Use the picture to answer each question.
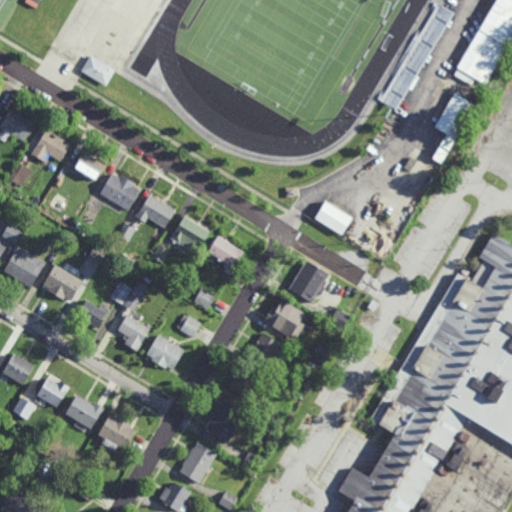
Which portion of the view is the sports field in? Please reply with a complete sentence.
Look in the top portion of the view to spot the sports field.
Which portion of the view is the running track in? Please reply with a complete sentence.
You can find the running track in the top area of the picture.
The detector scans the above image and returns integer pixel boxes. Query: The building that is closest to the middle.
[208,237,244,270]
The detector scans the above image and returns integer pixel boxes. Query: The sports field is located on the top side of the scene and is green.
[175,0,407,132]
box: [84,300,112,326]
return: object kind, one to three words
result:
house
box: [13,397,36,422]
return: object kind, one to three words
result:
building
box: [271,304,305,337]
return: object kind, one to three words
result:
house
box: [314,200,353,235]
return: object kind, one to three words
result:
shed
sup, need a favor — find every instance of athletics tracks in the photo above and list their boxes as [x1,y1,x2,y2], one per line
[132,0,427,155]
